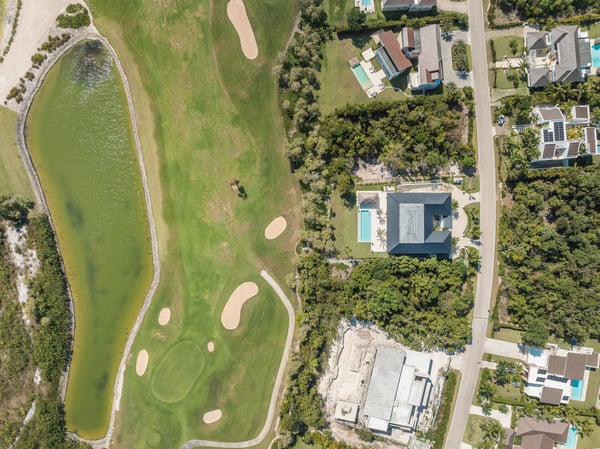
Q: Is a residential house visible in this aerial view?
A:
Yes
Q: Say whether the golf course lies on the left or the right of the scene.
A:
left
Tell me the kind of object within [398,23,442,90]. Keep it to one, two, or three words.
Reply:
house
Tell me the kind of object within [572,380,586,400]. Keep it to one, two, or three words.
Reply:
swimming pool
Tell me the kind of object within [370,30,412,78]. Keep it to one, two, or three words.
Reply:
house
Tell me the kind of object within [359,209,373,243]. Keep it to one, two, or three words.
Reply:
swimming pool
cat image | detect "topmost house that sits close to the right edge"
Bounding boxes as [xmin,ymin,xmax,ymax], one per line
[523,26,589,89]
